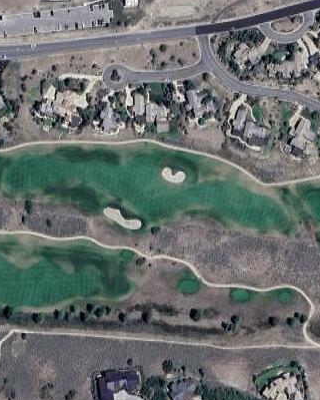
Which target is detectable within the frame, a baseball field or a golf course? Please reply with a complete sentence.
Visible in the photo is a golf course.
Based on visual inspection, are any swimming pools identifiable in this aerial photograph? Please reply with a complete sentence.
No, there is no swimming pool in the image.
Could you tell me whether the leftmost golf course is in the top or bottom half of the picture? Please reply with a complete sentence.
Seen from above, the leftmost golf course lies in the bottom half of the view.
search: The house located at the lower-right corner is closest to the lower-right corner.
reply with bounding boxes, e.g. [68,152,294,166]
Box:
[260,370,302,400]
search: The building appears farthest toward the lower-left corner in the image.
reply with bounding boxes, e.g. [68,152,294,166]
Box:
[96,369,140,400]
